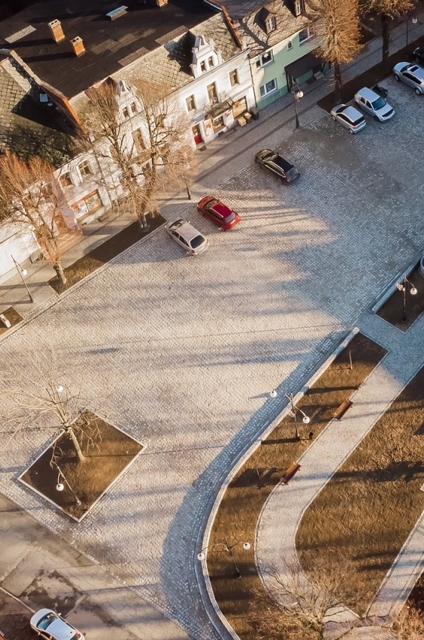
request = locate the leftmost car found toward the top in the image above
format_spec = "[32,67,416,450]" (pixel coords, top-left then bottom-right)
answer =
[162,218,211,255]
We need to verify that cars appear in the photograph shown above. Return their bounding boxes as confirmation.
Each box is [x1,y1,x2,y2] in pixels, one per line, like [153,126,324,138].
[393,61,424,94]
[27,613,83,640]
[252,150,301,185]
[330,104,367,132]
[353,83,393,119]
[194,196,243,230]
[162,218,211,255]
